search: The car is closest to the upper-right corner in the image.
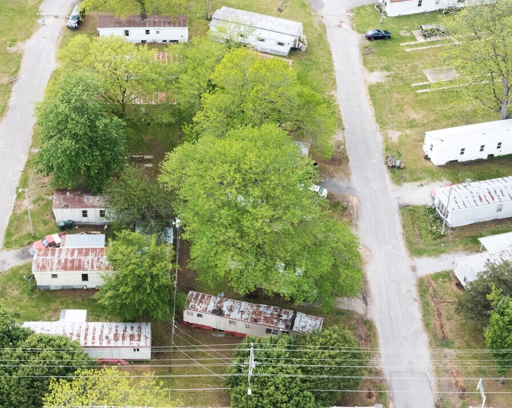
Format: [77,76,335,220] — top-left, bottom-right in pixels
[419,23,448,35]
